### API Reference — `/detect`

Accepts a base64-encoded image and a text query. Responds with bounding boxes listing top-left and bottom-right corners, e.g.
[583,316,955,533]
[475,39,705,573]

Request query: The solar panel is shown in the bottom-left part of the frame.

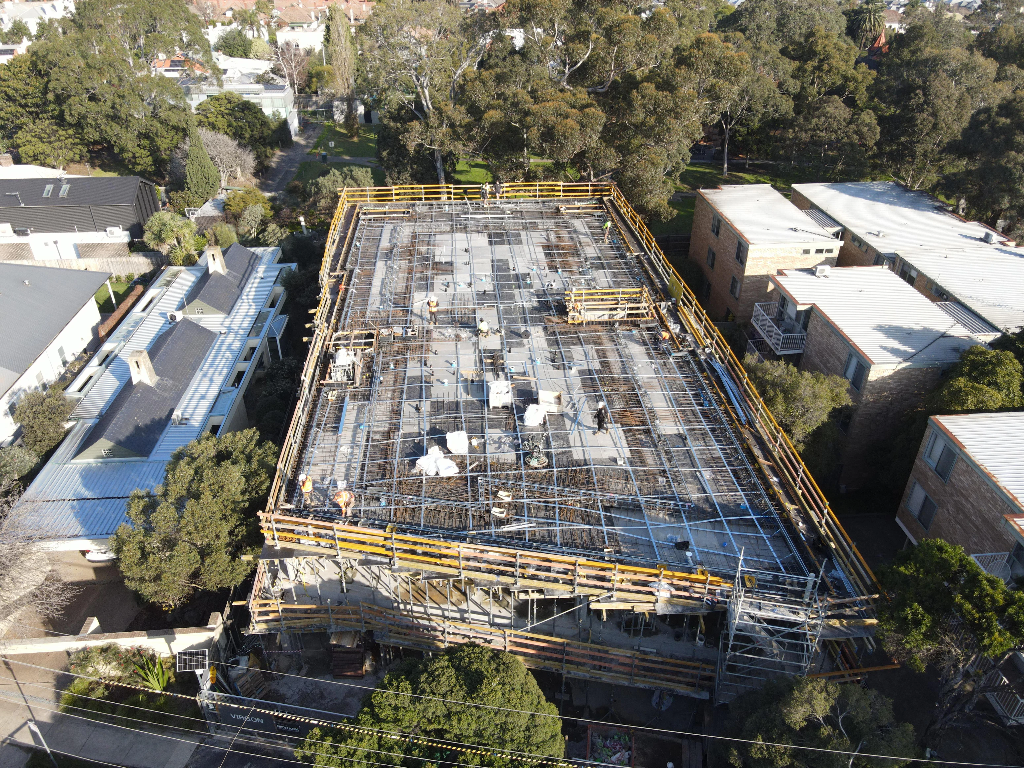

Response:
[175,647,210,707]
